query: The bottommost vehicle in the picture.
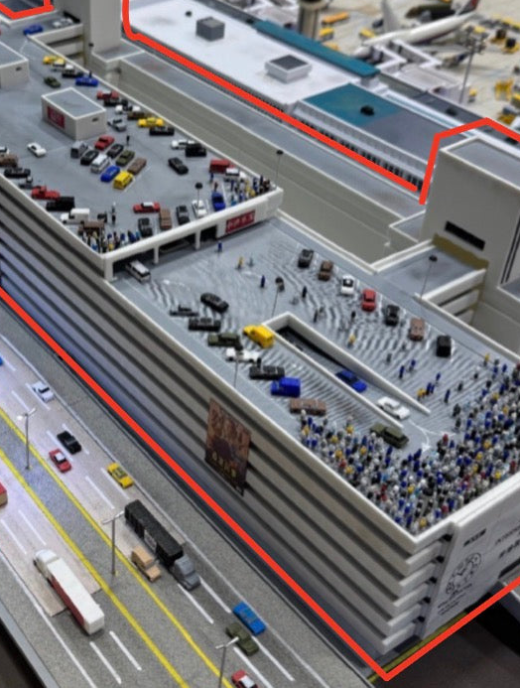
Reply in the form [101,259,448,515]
[227,664,258,688]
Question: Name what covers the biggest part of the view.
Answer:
buildings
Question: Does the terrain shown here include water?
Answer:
No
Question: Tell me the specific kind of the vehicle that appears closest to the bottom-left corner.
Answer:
truck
